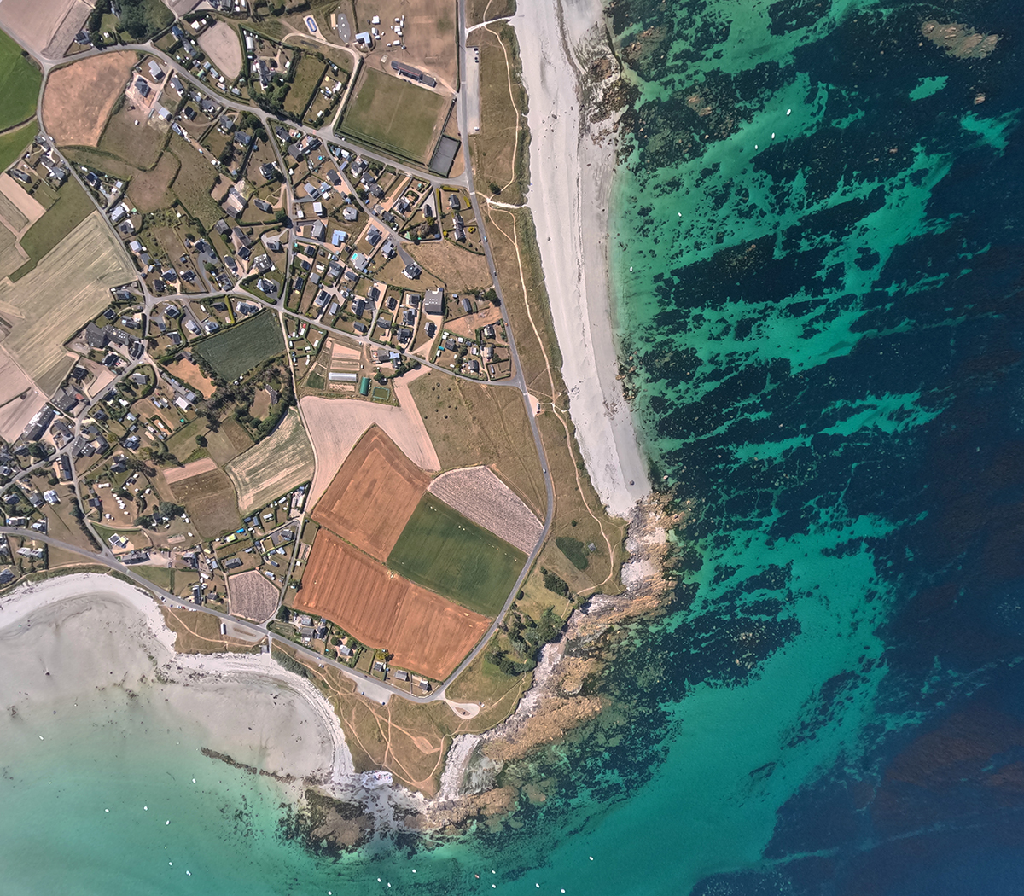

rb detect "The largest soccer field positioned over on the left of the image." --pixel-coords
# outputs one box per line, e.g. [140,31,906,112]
[344,69,443,159]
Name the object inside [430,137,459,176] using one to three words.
tennis court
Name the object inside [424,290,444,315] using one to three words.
building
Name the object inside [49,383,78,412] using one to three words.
house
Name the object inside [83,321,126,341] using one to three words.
barn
